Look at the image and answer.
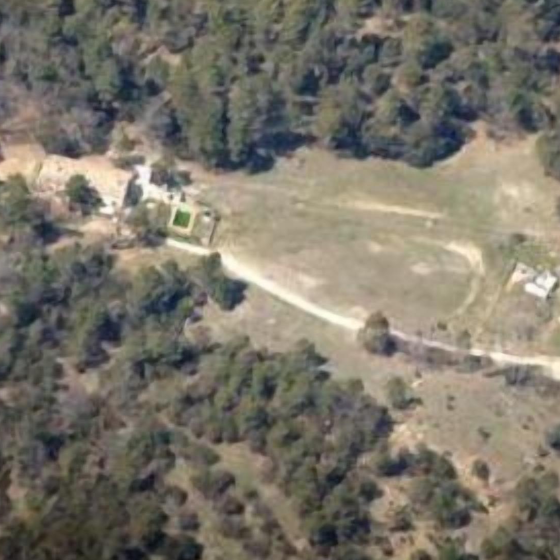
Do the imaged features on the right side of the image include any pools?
No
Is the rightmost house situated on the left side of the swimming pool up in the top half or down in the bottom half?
top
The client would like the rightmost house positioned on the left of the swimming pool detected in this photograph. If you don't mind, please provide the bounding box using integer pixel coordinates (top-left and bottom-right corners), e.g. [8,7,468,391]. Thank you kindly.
[88,164,136,219]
